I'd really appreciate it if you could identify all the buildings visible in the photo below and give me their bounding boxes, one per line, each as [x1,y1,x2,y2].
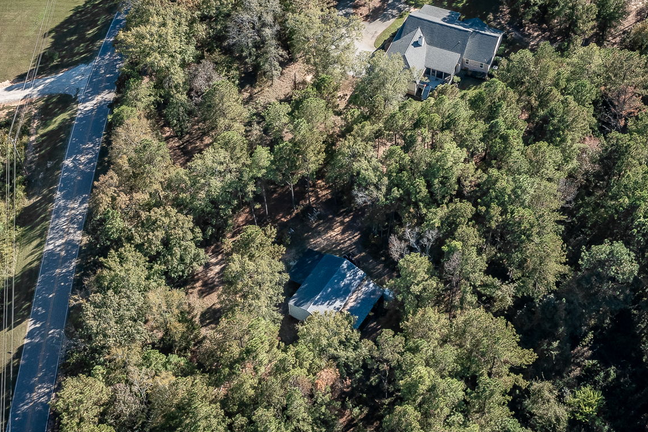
[282,243,385,336]
[378,3,505,90]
